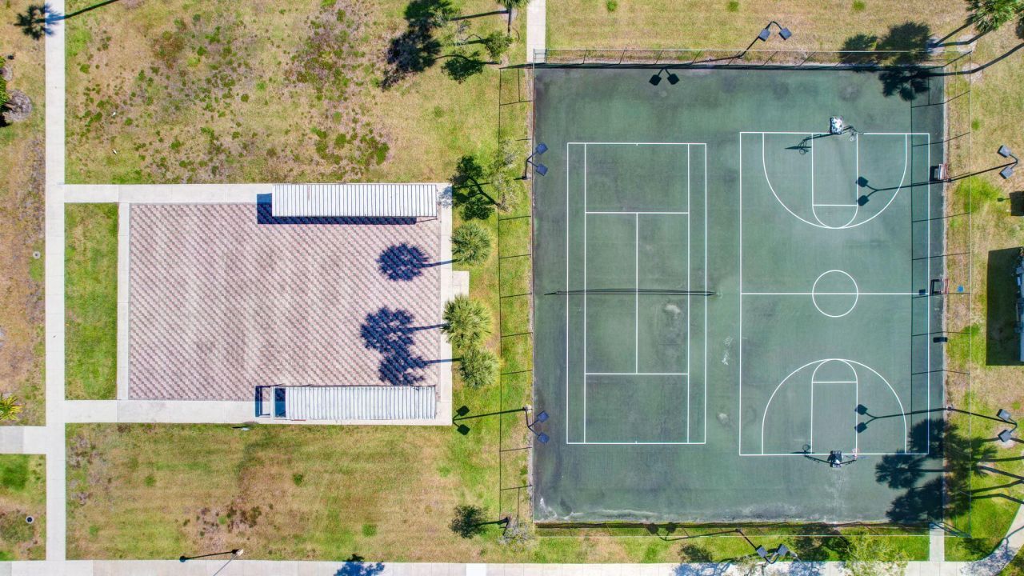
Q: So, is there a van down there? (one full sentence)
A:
No, the picture doesn't show any van.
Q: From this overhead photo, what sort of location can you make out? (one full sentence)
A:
The picture captures a sports ground.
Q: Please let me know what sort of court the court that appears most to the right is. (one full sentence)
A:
I'd identify the court that appears most to the right as a basketball court.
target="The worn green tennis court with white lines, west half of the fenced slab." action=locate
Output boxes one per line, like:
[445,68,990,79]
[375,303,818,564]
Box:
[534,64,723,522]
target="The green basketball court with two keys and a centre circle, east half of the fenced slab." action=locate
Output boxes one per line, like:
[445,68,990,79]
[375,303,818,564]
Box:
[723,64,947,522]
